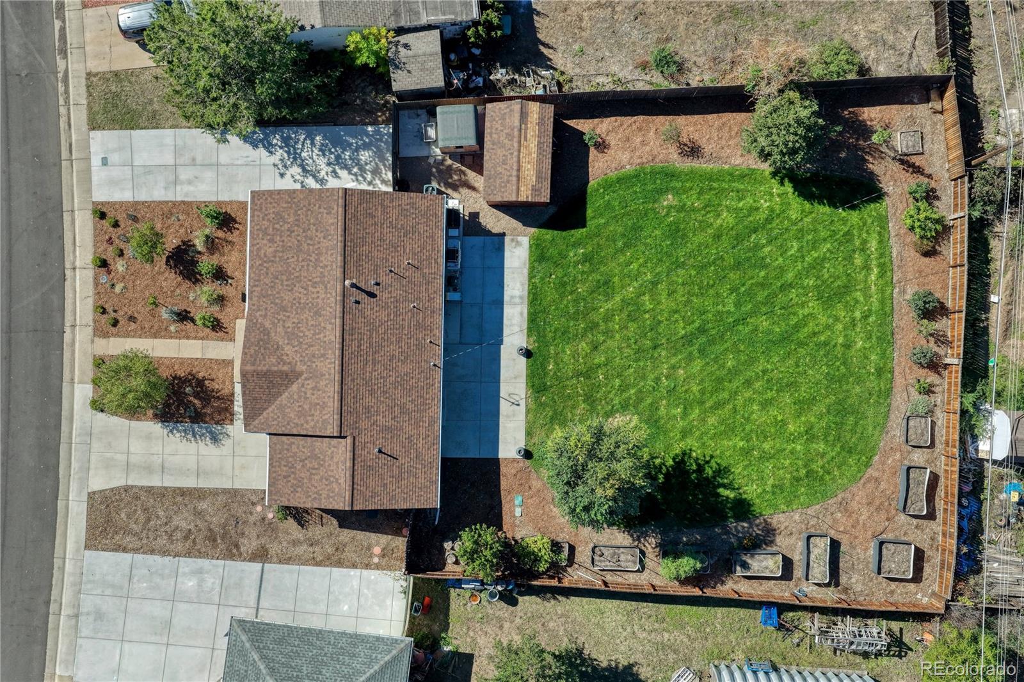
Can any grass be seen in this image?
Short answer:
Yes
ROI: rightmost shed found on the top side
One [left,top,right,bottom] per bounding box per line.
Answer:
[483,100,554,206]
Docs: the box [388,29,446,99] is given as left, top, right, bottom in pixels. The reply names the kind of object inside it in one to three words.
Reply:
shed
